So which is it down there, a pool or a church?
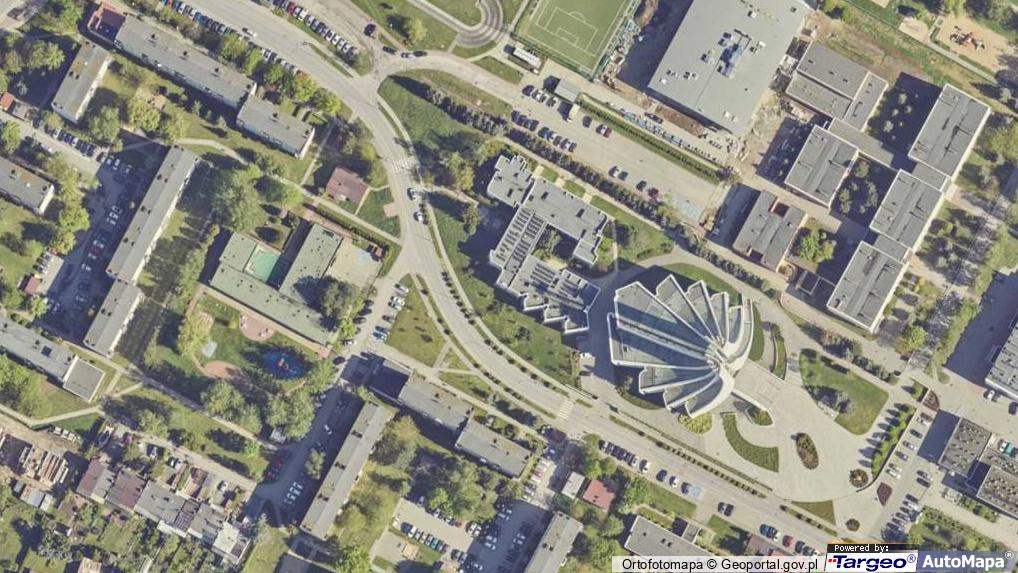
church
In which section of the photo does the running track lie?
top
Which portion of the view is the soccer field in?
top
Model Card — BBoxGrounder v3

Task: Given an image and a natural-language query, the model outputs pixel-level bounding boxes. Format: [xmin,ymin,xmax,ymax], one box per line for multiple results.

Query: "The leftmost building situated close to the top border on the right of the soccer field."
[648,0,817,140]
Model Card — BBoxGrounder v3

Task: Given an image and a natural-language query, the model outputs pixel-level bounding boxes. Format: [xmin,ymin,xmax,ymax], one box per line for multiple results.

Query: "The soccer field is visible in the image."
[517,0,632,74]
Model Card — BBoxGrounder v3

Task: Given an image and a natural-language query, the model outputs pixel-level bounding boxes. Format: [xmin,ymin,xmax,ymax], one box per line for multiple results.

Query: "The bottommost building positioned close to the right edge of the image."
[977,467,1018,519]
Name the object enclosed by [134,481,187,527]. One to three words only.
house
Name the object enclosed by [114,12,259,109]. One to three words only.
building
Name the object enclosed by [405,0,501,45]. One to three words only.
running track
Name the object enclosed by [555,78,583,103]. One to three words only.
shed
